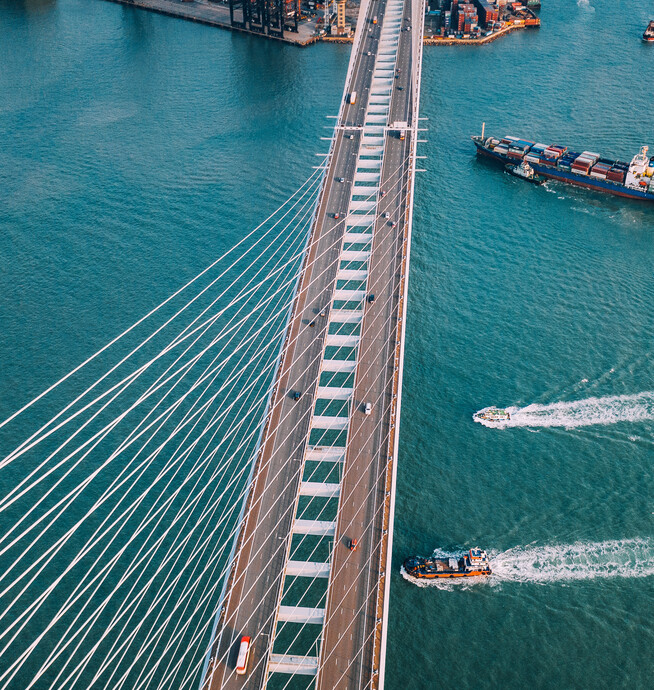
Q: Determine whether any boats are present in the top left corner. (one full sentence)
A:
No, no boat can be made out in the top left corner.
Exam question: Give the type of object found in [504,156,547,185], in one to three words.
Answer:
boat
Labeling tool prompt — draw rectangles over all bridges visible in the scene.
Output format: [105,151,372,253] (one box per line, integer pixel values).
[0,0,430,690]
